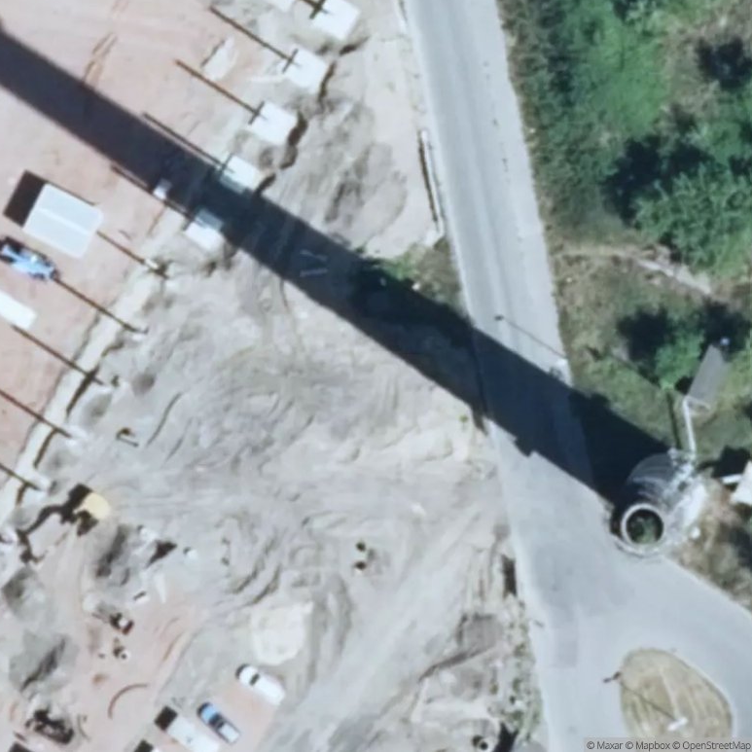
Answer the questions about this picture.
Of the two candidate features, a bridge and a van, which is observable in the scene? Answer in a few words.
van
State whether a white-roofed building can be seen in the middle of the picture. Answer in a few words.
No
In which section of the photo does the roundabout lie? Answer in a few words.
bottom right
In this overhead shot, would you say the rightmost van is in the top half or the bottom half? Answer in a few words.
bottom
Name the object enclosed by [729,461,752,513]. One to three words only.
building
